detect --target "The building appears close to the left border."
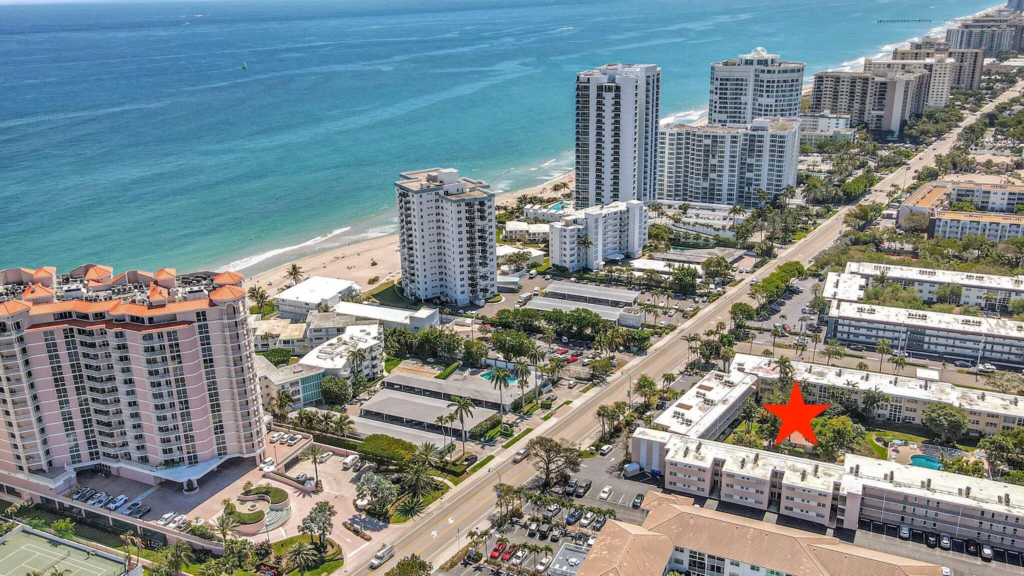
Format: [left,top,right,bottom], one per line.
[0,263,275,499]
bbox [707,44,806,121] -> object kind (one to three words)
building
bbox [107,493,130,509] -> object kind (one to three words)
car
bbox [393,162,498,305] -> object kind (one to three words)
building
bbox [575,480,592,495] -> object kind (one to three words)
vehicle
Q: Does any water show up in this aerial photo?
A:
Yes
